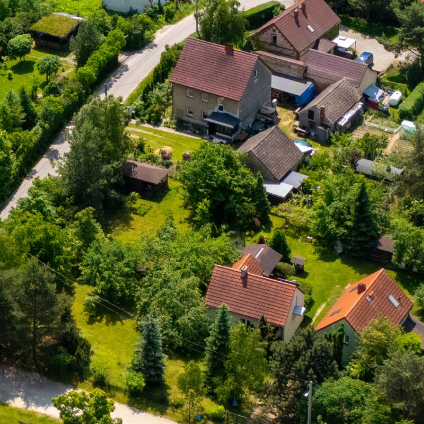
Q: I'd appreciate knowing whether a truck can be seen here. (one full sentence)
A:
No, this view has no truck in it.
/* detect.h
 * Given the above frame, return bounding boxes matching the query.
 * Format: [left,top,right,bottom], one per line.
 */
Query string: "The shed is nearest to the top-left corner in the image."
[31,11,79,55]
